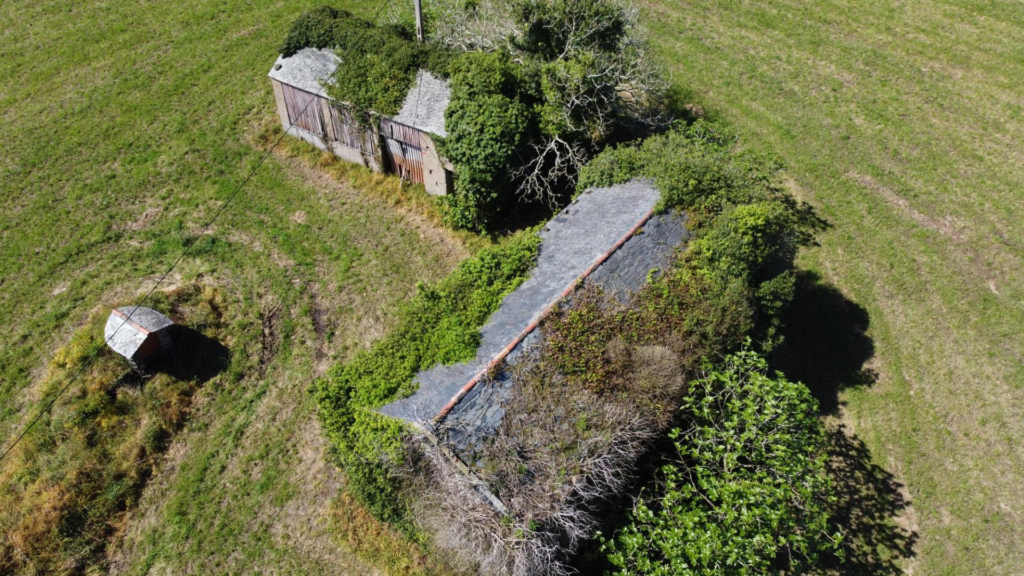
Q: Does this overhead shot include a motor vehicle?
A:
No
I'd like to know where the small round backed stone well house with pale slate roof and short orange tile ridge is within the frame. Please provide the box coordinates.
[103,309,189,385]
